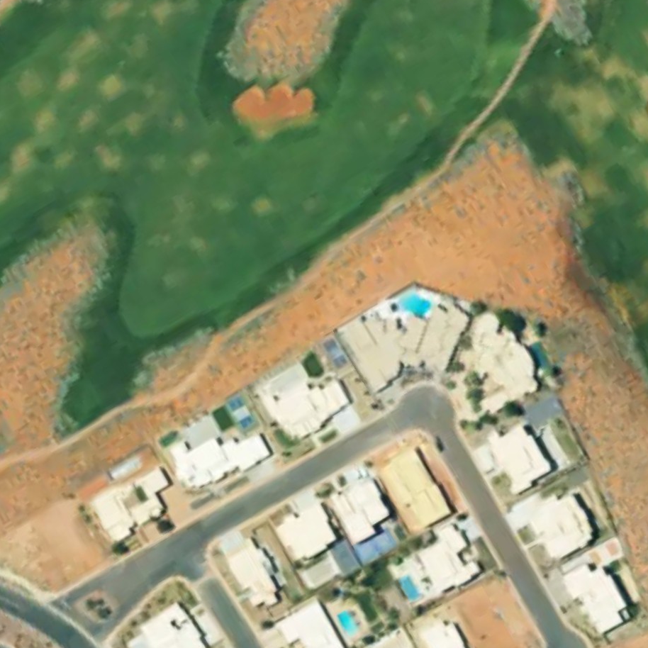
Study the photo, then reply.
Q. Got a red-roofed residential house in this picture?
No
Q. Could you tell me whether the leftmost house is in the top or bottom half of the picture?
bottom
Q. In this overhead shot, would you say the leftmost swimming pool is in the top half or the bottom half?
bottom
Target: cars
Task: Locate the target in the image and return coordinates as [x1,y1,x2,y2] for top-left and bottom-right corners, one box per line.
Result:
[360,465,368,476]
[434,436,443,451]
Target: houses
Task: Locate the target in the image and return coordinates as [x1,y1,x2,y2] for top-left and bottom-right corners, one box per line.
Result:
[93,469,171,537]
[388,450,450,528]
[484,425,546,494]
[562,565,626,632]
[263,373,352,442]
[167,426,271,490]
[472,313,537,412]
[227,548,281,613]
[420,621,467,648]
[337,301,467,393]
[278,603,341,648]
[416,527,481,594]
[528,487,595,562]
[276,505,338,562]
[370,632,410,648]
[328,475,391,545]
[146,606,199,648]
